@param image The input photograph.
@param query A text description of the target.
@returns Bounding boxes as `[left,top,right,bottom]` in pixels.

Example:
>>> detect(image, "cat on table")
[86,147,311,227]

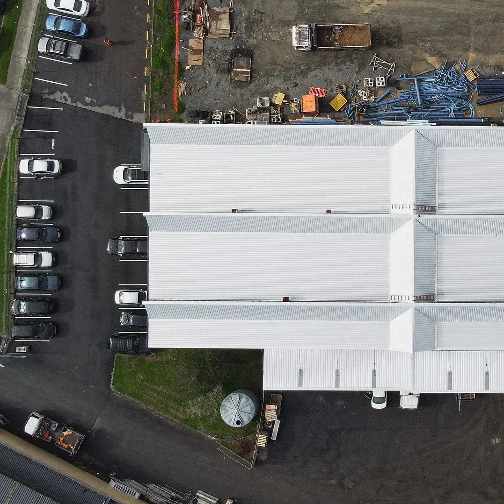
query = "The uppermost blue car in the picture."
[45,14,91,39]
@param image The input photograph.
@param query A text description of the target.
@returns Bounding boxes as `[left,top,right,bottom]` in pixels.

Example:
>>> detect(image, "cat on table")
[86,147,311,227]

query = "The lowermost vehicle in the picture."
[20,411,89,456]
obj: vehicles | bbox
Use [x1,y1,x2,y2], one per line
[18,157,64,177]
[15,203,56,221]
[15,224,64,245]
[294,20,373,51]
[397,394,421,409]
[123,310,148,329]
[110,236,149,257]
[39,35,87,61]
[16,271,64,293]
[47,0,93,18]
[109,334,154,355]
[12,250,58,270]
[12,296,54,318]
[45,14,91,39]
[20,411,89,456]
[115,287,149,308]
[370,394,390,411]
[112,163,150,186]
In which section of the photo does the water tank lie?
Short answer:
bottom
